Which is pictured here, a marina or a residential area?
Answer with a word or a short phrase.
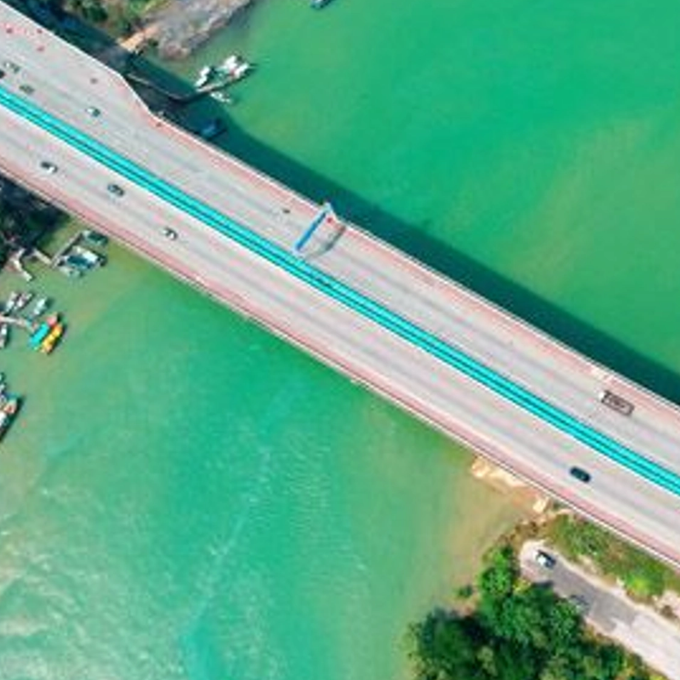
marina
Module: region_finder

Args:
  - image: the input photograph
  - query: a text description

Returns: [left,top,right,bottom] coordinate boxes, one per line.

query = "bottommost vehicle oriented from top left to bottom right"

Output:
[534,550,554,567]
